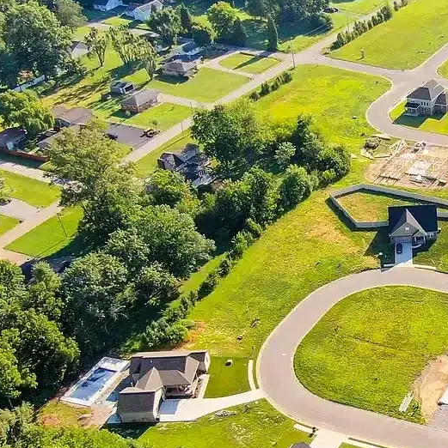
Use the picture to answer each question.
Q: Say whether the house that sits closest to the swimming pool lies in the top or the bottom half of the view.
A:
bottom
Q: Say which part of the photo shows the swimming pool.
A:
bottom left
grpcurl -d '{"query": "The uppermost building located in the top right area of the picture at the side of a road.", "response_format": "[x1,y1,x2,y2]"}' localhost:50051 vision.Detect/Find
[401,79,448,117]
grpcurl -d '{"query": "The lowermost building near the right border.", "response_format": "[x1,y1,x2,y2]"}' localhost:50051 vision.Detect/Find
[386,205,439,247]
